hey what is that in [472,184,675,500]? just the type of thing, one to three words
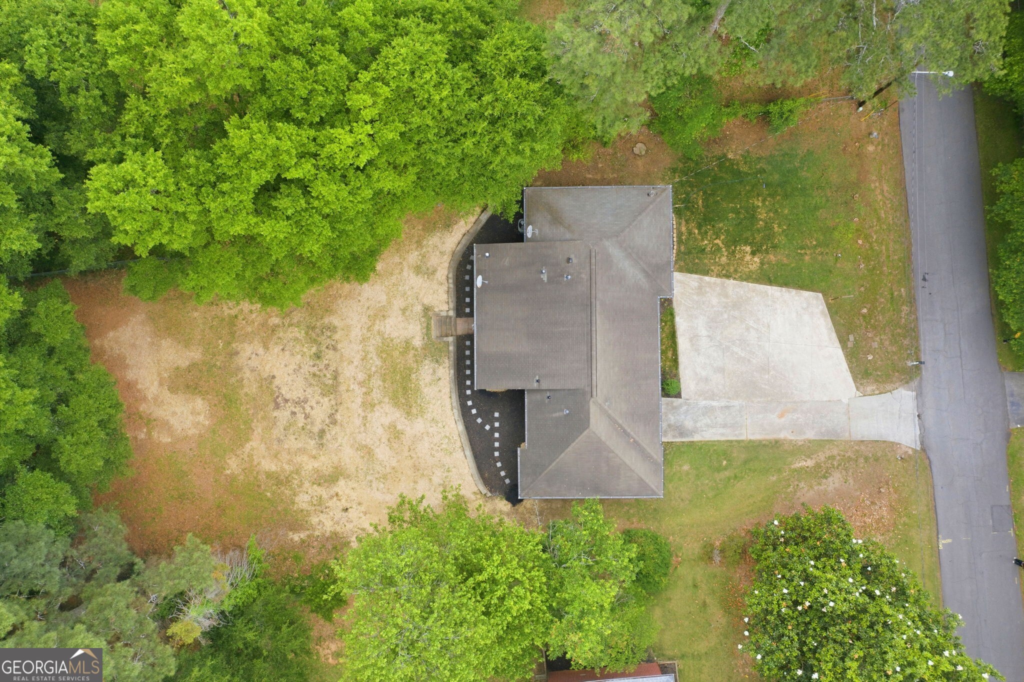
house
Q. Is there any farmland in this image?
No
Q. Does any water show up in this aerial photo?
No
